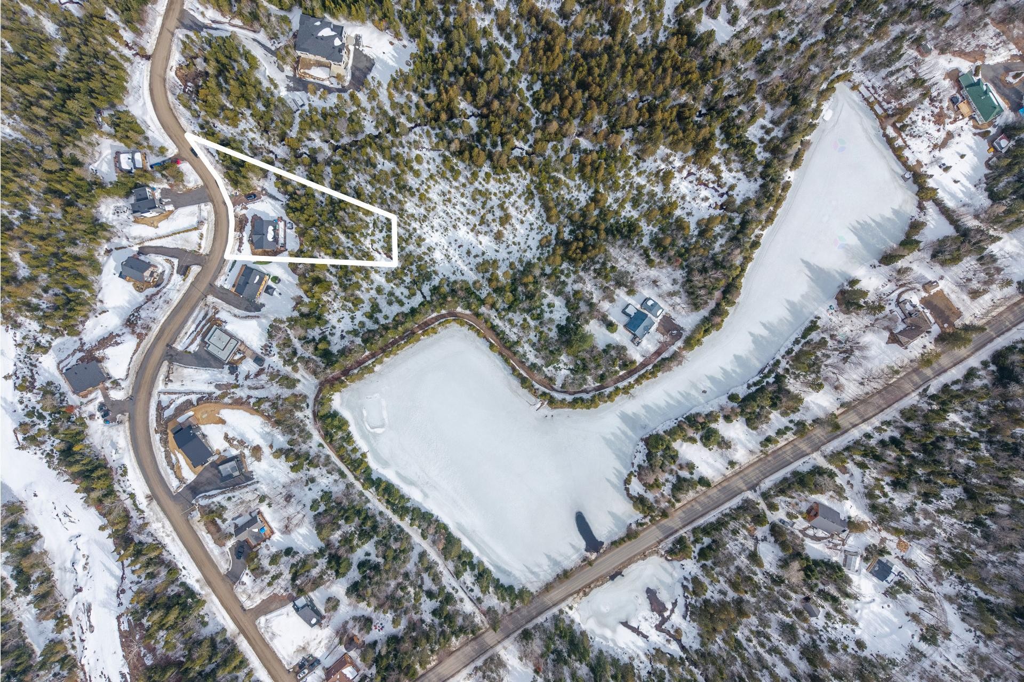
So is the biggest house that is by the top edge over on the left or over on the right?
left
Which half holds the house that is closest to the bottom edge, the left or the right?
left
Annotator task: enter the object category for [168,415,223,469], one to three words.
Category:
house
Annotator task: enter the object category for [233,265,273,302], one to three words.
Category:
house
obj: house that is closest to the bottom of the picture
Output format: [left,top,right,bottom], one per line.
[320,651,367,682]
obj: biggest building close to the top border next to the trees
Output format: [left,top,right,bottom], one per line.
[294,15,357,86]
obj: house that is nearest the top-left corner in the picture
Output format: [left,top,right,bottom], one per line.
[114,151,151,174]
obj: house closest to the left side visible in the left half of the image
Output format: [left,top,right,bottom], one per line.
[65,362,110,395]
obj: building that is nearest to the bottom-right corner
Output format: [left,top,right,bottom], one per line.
[862,555,894,584]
